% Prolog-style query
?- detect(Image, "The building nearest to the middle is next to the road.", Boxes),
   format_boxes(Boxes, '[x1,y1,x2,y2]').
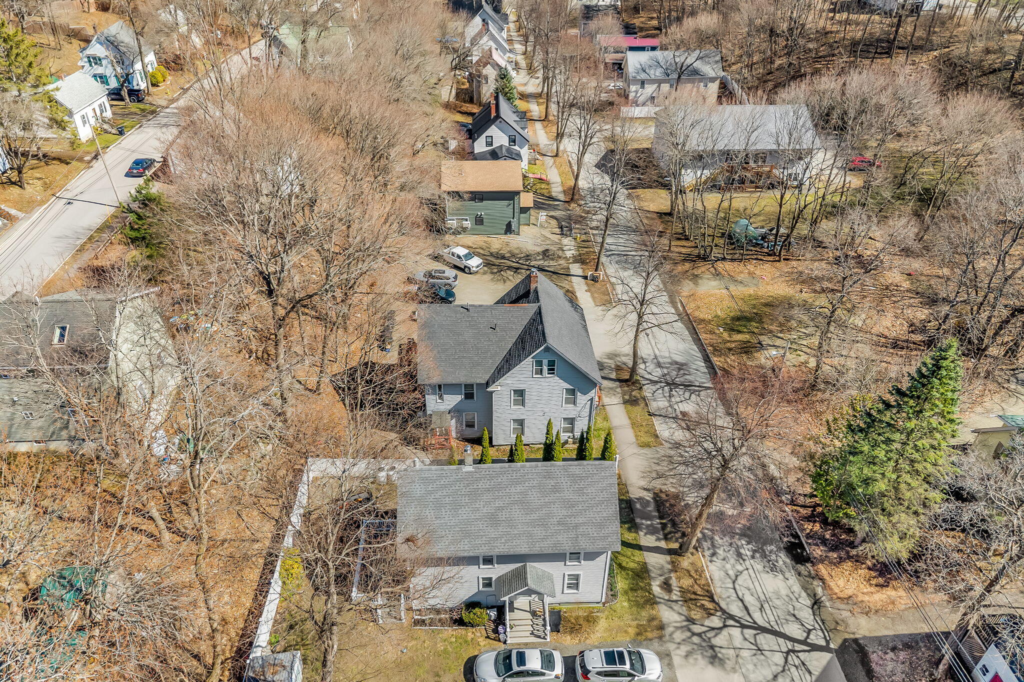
[412,259,604,455]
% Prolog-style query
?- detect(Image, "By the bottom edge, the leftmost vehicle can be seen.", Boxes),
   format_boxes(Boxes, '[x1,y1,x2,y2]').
[474,642,563,682]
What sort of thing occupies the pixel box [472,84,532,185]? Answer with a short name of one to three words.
house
